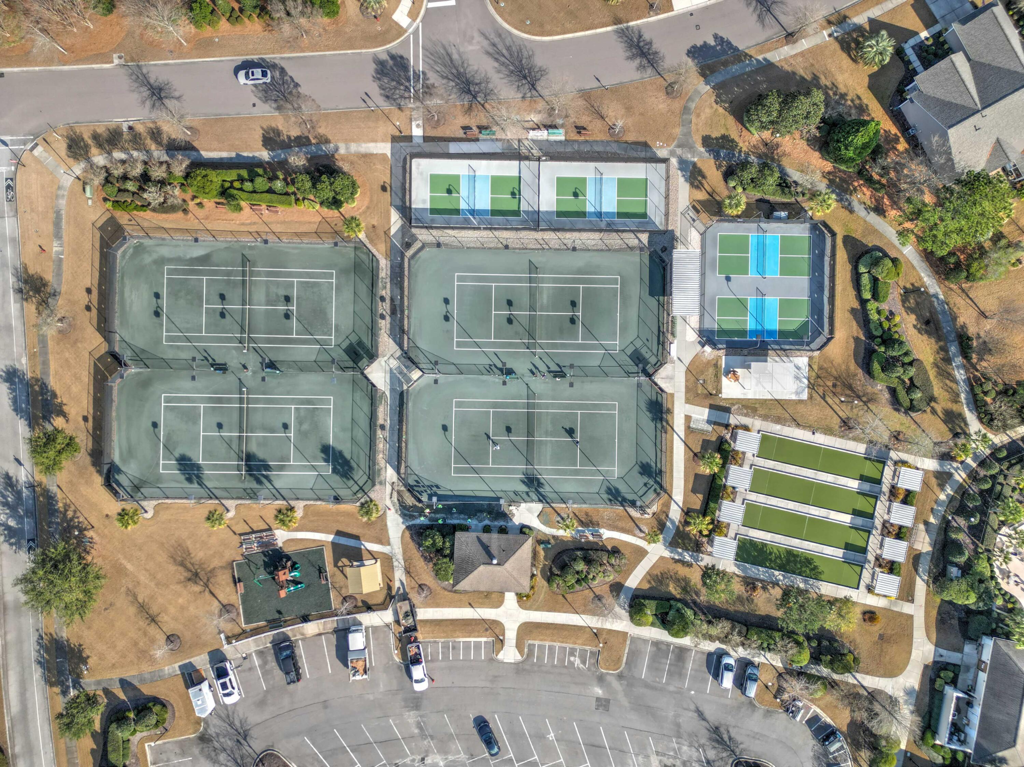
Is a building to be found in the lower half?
Yes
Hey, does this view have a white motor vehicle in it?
Yes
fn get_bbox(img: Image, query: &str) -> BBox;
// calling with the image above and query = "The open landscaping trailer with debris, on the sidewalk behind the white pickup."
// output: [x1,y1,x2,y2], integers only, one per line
[393,586,421,642]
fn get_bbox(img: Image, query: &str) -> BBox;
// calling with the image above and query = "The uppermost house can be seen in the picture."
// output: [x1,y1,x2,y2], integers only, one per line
[897,0,1024,187]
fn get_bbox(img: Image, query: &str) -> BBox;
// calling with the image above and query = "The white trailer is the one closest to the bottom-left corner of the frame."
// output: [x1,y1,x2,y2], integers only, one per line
[184,671,211,722]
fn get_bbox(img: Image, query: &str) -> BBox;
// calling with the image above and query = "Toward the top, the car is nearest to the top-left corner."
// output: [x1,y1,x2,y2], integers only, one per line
[237,67,272,86]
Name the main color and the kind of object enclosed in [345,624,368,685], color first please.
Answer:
white truck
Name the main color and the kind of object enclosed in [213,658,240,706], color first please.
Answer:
white truck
